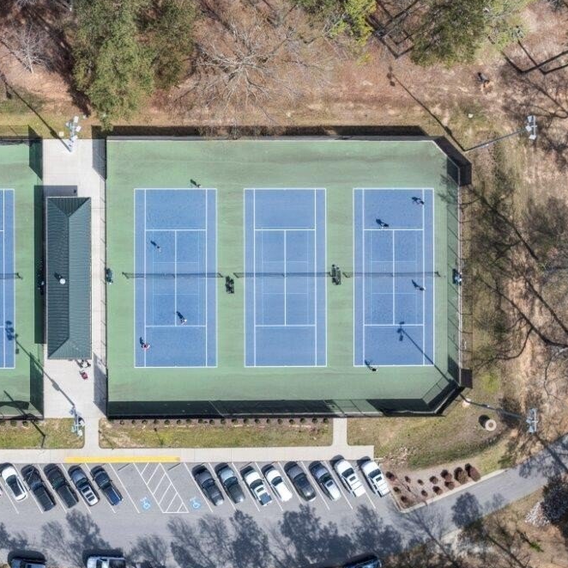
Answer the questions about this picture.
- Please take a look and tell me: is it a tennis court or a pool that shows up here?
tennis court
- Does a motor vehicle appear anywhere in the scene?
Yes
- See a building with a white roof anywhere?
No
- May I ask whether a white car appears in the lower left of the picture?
Yes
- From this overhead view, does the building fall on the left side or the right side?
left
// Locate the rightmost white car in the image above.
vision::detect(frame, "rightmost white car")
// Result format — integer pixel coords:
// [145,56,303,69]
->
[361,461,391,499]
